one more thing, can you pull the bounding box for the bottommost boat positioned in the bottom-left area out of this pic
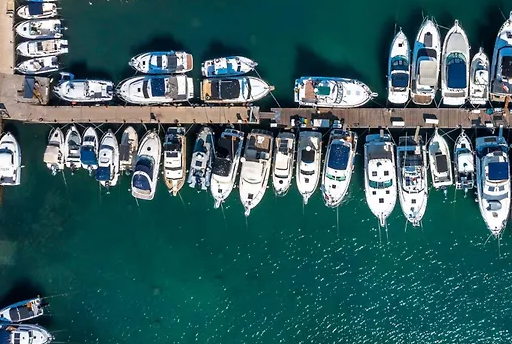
[0,322,70,344]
